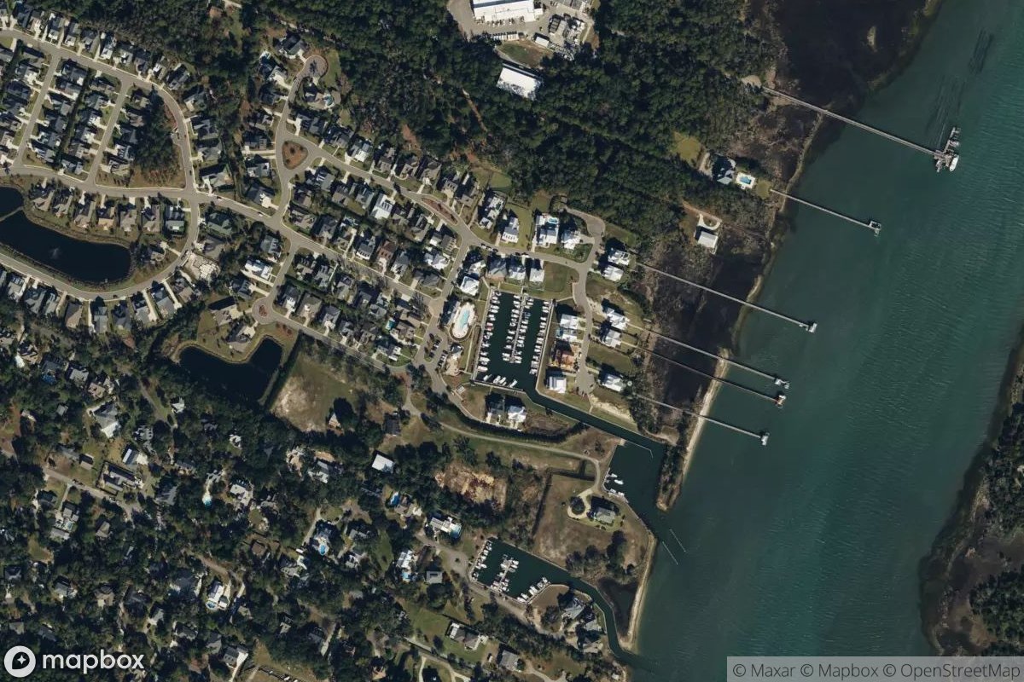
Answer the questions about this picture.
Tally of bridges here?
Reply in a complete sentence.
The count of bridges is 0.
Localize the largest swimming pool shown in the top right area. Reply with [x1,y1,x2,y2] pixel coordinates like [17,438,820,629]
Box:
[736,171,757,189]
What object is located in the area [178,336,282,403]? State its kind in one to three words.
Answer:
pond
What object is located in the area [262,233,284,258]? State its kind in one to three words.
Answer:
house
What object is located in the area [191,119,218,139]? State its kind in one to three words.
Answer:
house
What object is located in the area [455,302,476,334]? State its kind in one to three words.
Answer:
swimming pool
